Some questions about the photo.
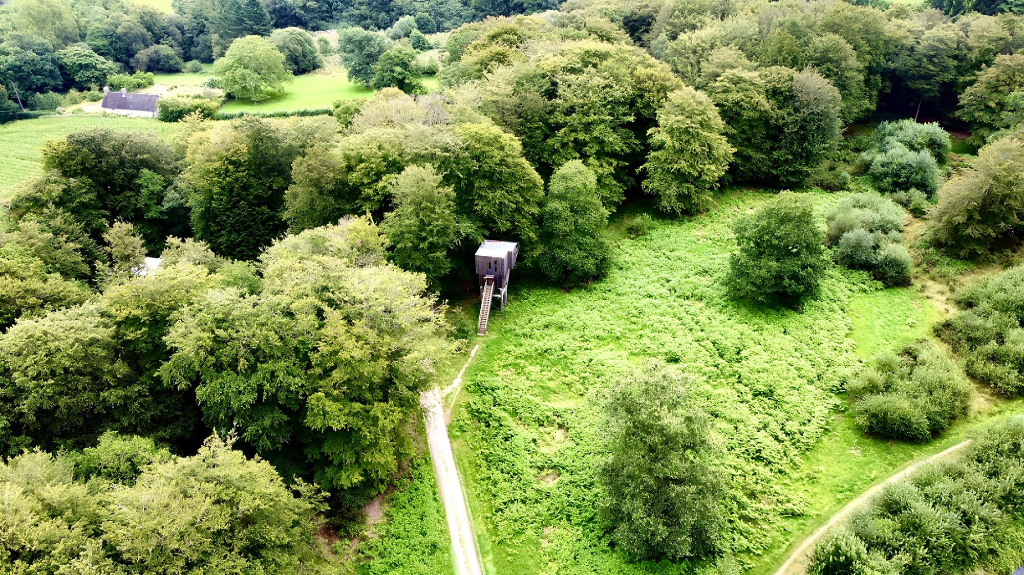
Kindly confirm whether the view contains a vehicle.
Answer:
No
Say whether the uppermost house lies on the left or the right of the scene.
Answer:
left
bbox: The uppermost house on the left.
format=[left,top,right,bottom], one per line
[100,88,159,121]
